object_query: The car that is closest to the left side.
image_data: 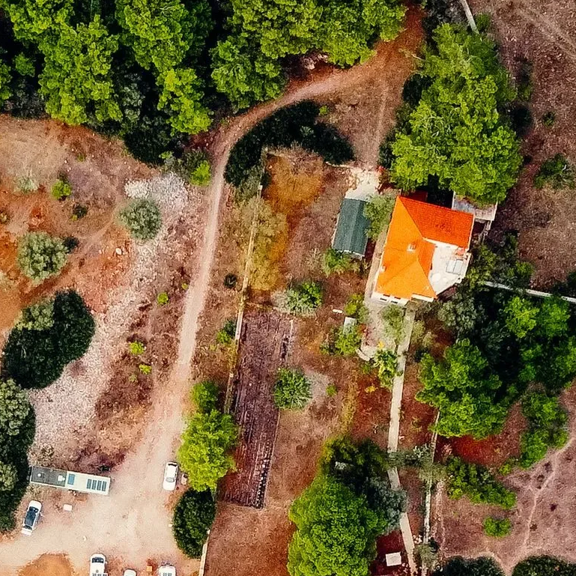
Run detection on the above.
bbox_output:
[20,500,41,535]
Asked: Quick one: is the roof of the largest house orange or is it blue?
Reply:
orange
